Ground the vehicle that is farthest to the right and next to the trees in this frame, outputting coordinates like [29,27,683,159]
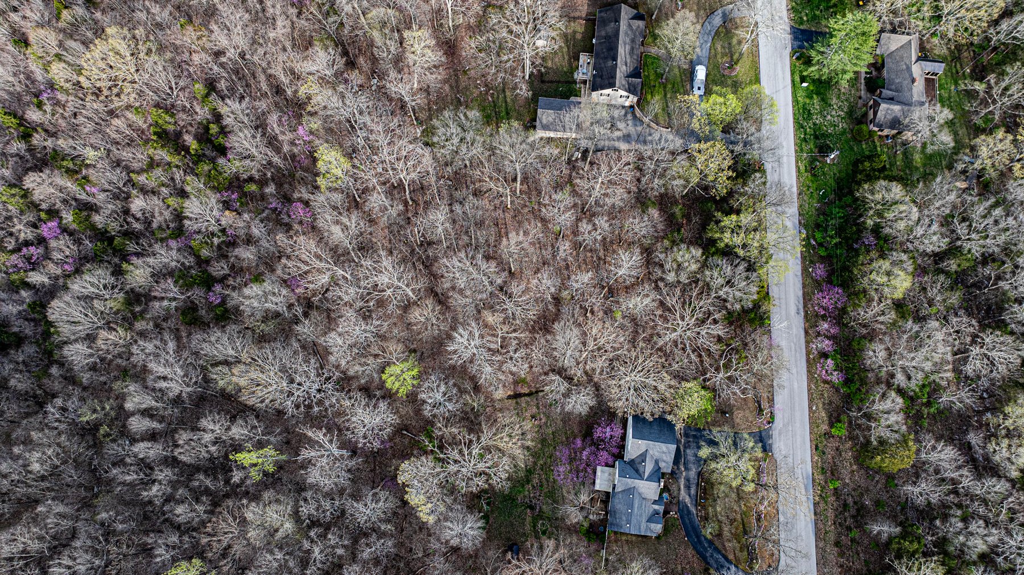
[694,62,708,94]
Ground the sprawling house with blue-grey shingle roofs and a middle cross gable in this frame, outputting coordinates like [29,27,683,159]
[603,413,677,537]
